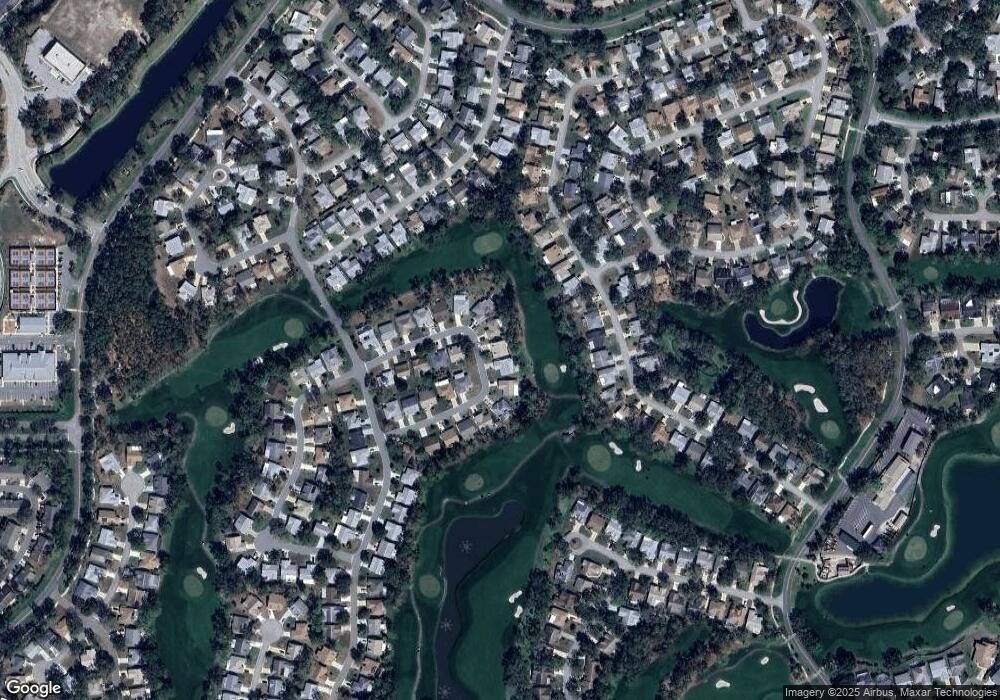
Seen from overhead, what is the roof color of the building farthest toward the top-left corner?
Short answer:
white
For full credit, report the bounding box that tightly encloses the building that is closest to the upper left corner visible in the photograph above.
[42,42,87,81]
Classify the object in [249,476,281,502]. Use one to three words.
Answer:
house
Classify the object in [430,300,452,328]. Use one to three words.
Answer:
house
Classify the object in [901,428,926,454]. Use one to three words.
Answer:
building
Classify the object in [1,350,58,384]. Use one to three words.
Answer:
building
